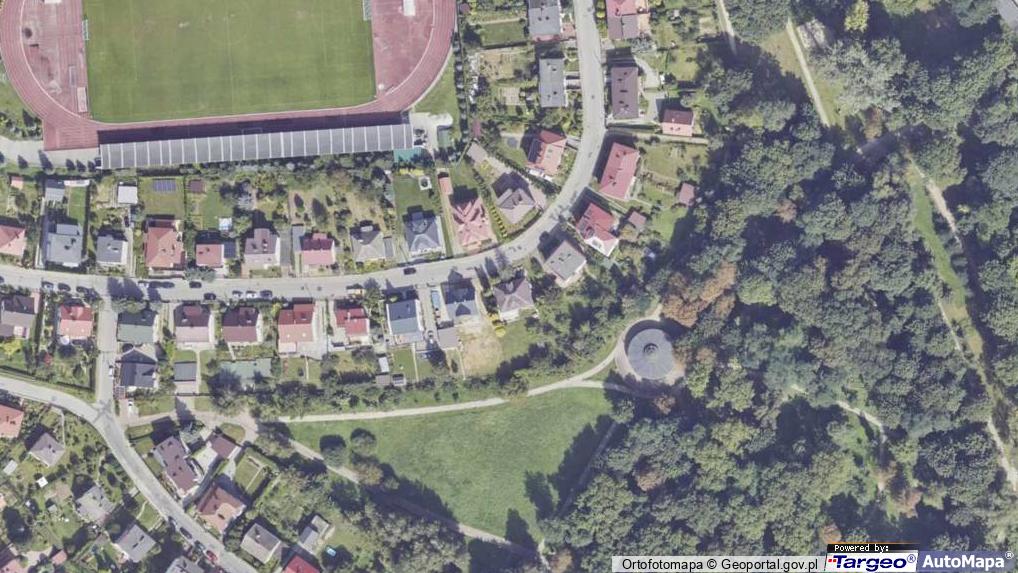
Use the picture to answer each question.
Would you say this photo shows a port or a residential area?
residential area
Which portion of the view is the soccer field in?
top left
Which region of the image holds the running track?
top left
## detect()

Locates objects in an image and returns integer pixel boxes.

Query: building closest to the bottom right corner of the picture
[627,329,675,377]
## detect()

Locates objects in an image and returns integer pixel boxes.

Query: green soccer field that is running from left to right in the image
[83,0,379,122]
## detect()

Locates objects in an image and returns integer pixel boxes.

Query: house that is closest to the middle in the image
[494,280,532,321]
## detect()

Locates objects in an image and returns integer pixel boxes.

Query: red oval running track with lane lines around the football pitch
[0,0,459,151]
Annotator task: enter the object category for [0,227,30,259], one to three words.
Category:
house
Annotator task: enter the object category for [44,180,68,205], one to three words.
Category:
shed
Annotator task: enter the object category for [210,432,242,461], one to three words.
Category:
building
